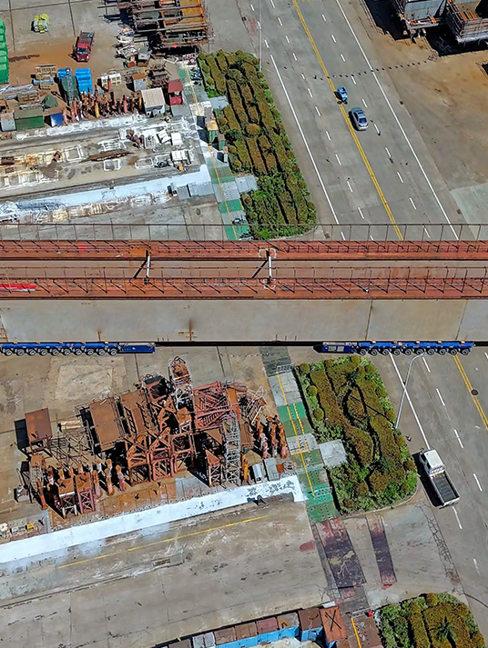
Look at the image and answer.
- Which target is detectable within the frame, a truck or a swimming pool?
truck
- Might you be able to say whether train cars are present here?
No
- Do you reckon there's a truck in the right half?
Yes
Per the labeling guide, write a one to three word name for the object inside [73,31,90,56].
vehicle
